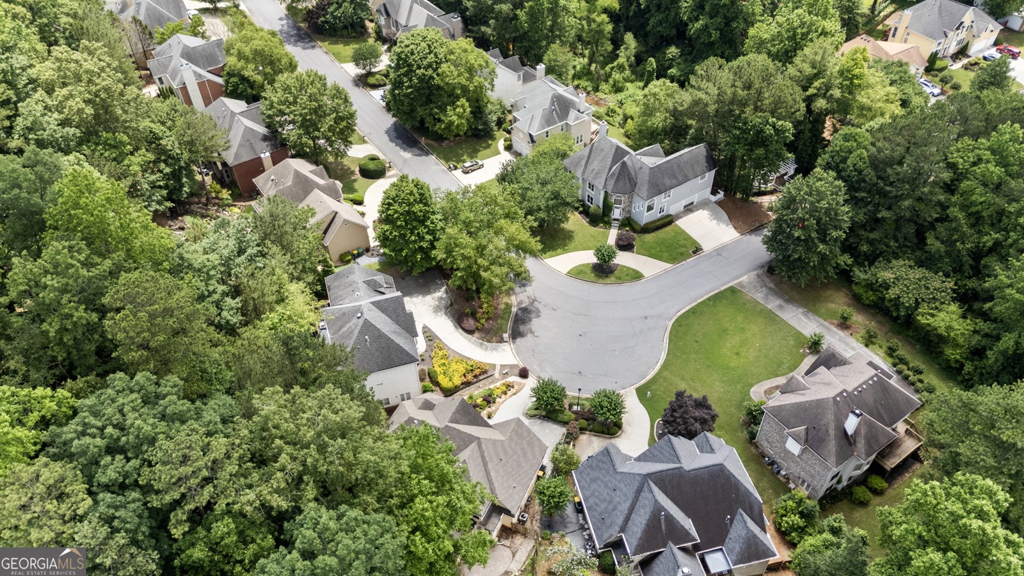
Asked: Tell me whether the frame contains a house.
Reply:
Yes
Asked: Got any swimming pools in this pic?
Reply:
No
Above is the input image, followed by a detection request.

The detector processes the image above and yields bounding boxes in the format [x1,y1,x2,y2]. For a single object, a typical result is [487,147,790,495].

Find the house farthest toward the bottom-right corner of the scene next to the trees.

[753,339,923,497]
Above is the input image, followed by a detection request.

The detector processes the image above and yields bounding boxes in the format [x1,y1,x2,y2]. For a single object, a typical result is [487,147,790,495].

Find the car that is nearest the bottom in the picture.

[460,158,485,172]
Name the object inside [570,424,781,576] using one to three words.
house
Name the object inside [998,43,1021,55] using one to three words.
vehicle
